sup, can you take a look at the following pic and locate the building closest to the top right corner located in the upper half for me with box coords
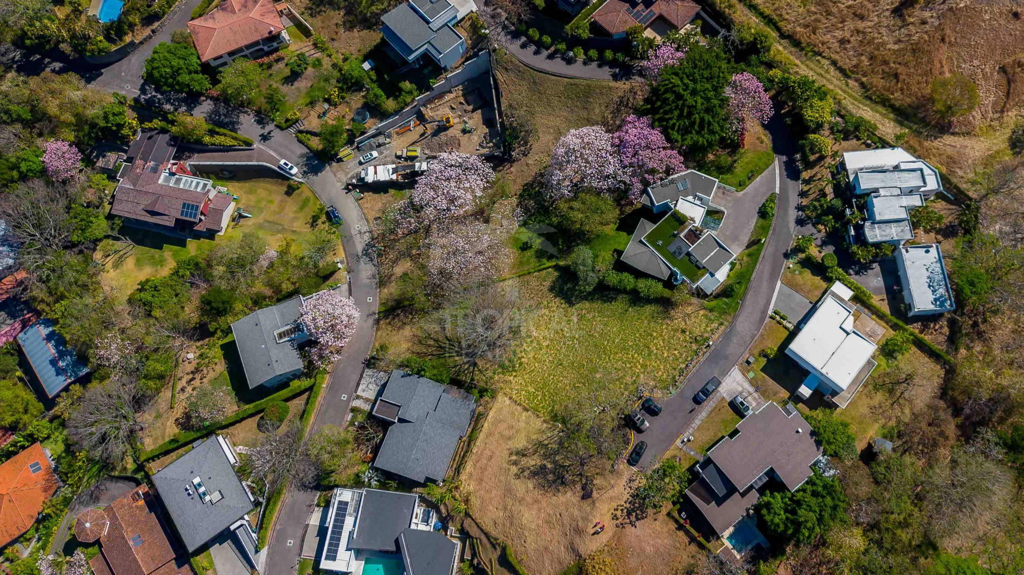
[839,147,942,243]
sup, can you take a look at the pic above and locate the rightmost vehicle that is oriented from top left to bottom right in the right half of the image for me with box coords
[732,392,754,416]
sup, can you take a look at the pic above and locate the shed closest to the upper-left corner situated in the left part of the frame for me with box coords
[95,153,122,169]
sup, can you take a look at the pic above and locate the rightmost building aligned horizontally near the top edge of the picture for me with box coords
[591,0,701,44]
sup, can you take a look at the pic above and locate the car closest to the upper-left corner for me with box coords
[276,159,300,175]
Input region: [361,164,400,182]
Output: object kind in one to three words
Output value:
shed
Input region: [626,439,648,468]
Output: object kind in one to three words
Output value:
car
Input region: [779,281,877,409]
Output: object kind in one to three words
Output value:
house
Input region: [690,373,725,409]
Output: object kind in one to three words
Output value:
truck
